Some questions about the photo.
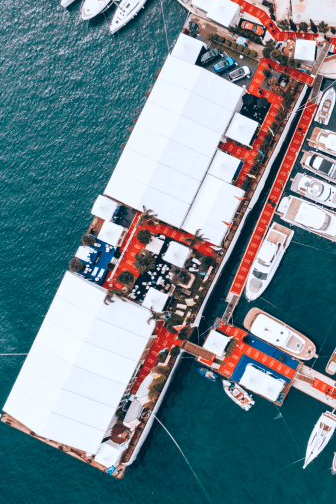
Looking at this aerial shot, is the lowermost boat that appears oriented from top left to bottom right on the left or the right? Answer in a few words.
right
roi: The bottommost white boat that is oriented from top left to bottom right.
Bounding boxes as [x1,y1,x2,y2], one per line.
[222,381,256,412]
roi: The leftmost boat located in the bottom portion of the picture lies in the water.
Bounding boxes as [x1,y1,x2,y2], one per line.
[197,368,220,382]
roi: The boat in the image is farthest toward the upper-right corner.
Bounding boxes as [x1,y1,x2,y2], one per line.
[314,88,336,127]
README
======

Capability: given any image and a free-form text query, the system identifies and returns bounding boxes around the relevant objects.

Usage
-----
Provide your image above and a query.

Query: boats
[275,196,336,243]
[287,174,336,209]
[222,381,256,412]
[303,129,336,158]
[81,0,114,21]
[298,153,336,186]
[325,349,336,375]
[246,225,293,302]
[197,368,220,382]
[102,0,146,35]
[245,309,320,361]
[302,412,336,469]
[314,88,336,127]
